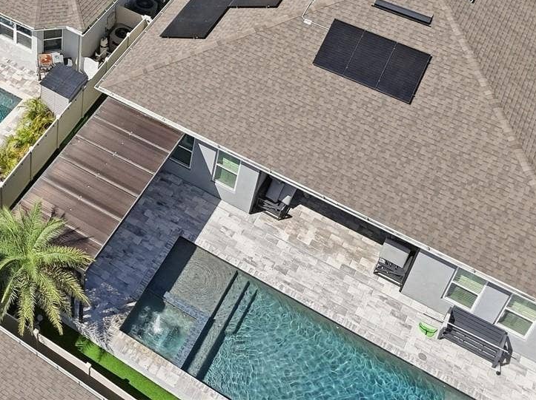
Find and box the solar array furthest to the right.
[311,20,431,104]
